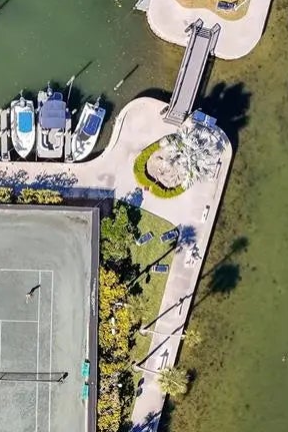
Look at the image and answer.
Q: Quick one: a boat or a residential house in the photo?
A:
boat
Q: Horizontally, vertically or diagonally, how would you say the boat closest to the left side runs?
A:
vertically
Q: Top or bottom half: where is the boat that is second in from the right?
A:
top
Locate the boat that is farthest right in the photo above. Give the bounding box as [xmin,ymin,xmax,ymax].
[74,97,104,160]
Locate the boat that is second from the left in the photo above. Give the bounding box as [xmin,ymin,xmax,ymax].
[39,92,68,160]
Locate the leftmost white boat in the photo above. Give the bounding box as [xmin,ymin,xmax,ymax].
[11,91,35,159]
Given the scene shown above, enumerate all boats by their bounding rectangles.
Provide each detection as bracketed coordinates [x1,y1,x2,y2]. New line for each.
[74,97,104,160]
[39,92,68,160]
[11,91,35,159]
